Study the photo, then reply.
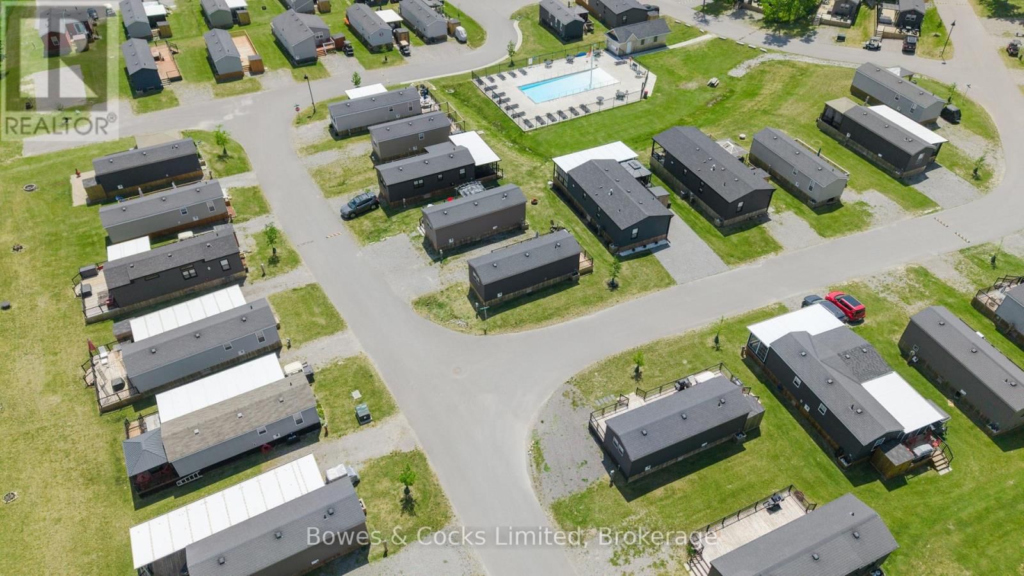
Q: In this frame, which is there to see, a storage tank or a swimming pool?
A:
swimming pool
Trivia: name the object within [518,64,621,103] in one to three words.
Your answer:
swimming pool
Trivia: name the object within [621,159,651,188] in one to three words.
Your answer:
gazebo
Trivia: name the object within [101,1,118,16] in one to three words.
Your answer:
car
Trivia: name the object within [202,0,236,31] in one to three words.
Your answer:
house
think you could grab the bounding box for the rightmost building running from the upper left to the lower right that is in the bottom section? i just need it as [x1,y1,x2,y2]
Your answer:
[904,306,1024,432]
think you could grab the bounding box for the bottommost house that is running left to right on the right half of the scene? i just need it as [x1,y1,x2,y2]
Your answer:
[710,493,900,576]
